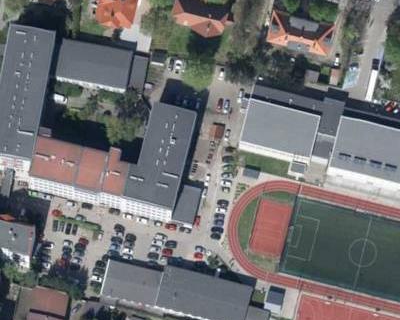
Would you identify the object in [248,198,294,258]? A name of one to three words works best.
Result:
sports court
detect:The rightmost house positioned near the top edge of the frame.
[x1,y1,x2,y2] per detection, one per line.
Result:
[268,16,335,57]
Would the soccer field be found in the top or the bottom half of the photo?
bottom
